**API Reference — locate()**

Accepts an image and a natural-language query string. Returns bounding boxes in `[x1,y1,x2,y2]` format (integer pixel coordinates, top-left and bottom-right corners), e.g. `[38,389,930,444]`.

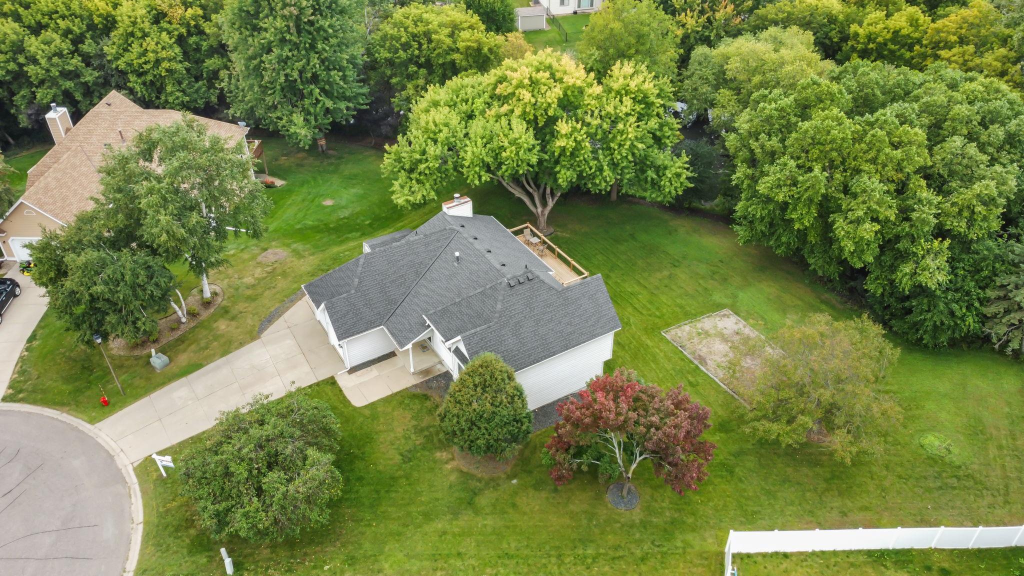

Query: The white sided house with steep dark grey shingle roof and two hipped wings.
[300,197,622,422]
